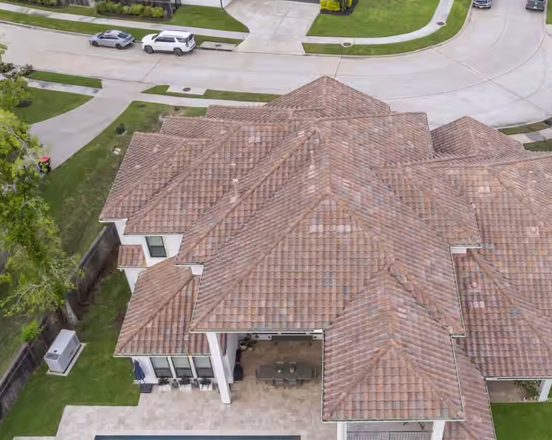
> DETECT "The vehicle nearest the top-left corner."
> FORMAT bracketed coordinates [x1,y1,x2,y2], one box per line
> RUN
[84,29,133,50]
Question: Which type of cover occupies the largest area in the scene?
buildings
